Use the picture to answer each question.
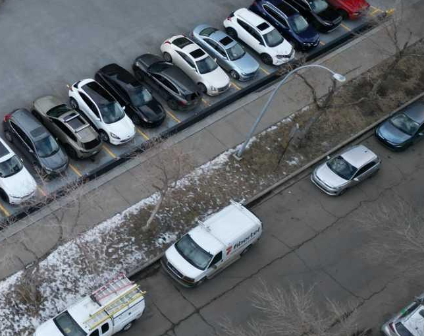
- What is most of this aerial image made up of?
paved ground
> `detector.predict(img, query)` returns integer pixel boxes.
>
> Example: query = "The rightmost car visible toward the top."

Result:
[374,100,424,153]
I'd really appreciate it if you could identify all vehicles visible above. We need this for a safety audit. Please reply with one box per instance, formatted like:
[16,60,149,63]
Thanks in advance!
[249,0,320,50]
[34,96,107,162]
[221,5,293,66]
[36,270,151,336]
[374,100,424,153]
[68,80,138,145]
[192,22,262,80]
[289,0,341,33]
[0,137,34,203]
[326,0,369,20]
[0,108,70,180]
[162,201,269,290]
[310,144,381,200]
[130,52,206,111]
[100,63,171,128]
[160,34,232,94]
